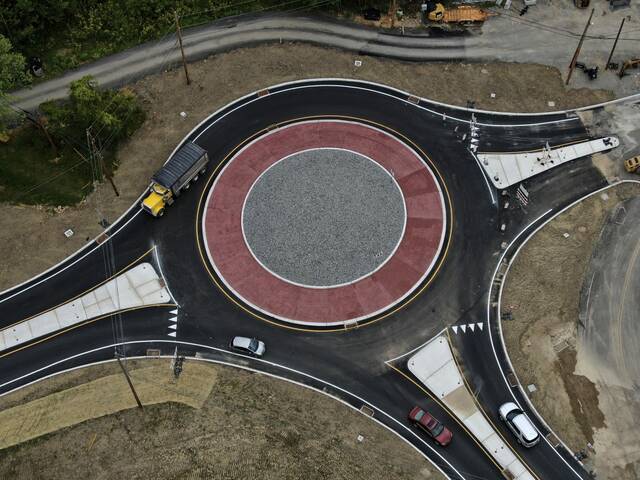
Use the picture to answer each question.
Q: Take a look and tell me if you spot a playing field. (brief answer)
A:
No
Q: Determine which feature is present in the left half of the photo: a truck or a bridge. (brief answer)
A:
truck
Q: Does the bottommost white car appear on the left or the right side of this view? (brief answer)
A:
right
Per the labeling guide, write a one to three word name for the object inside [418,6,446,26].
work vehicle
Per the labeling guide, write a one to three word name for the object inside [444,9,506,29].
trailer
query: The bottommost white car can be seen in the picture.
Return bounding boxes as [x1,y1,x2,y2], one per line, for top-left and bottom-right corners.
[498,402,541,449]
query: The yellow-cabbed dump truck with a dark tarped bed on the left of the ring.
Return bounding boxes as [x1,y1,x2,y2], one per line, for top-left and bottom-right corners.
[141,143,210,218]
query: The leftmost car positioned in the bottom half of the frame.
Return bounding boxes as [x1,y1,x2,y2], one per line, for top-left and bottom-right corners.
[230,336,266,358]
